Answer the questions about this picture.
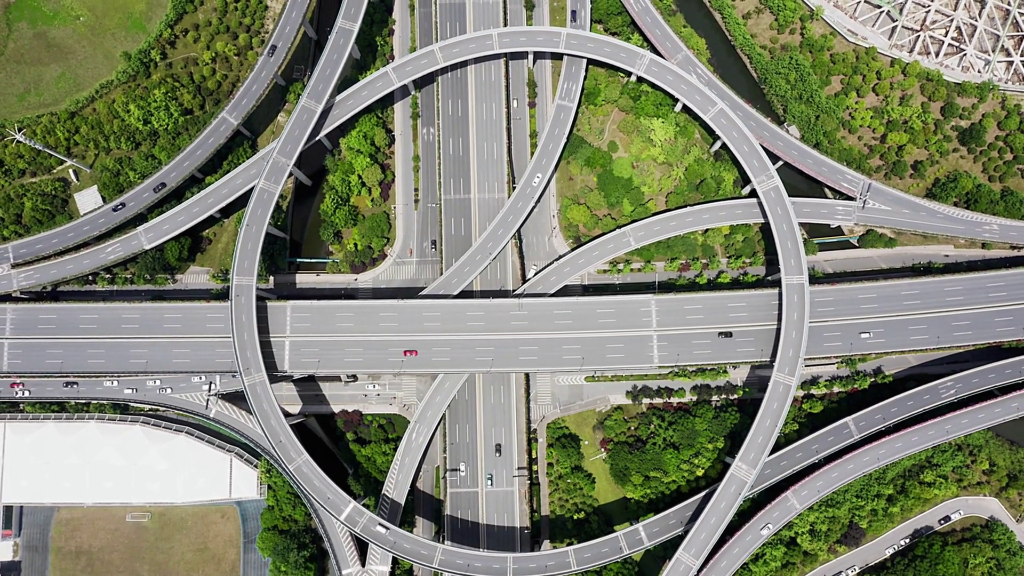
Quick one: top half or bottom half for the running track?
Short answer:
bottom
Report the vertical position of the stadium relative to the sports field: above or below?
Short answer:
above it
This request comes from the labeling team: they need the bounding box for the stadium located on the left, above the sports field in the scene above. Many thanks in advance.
[0,412,268,504]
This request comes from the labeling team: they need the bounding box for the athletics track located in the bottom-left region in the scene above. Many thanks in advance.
[17,491,267,576]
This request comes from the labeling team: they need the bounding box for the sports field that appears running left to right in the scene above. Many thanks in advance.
[50,506,242,576]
